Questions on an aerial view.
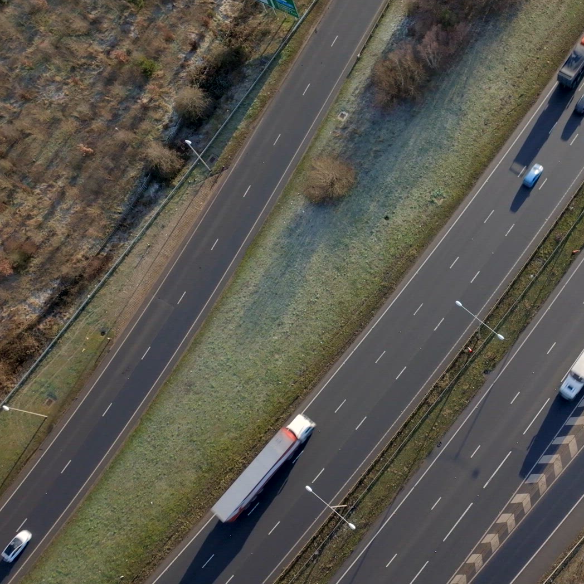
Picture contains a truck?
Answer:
Yes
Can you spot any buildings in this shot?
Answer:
No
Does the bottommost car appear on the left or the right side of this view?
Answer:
left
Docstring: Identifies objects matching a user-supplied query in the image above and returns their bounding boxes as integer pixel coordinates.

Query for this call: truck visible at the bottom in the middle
[213,410,317,520]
